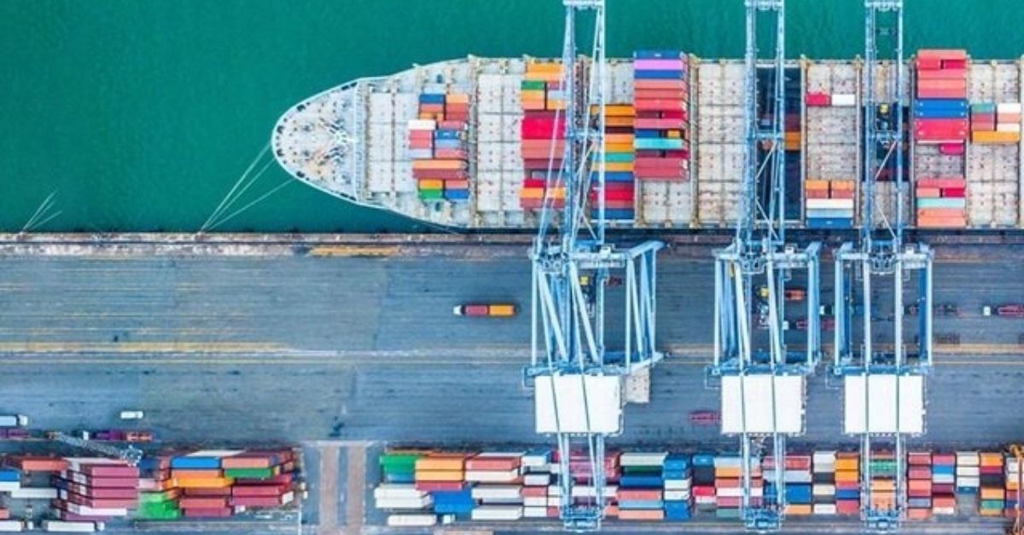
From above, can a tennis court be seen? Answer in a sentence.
No, there appears to be no tennis court in this shot.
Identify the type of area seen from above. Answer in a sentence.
The area seen from above is a port.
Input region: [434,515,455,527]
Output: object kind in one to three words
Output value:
vehicle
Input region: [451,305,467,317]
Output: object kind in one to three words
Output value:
vehicle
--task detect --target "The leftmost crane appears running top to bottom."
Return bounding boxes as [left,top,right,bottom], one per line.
[524,0,674,529]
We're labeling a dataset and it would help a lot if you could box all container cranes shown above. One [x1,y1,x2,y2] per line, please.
[706,0,834,529]
[1008,438,1024,535]
[826,0,941,529]
[524,0,674,529]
